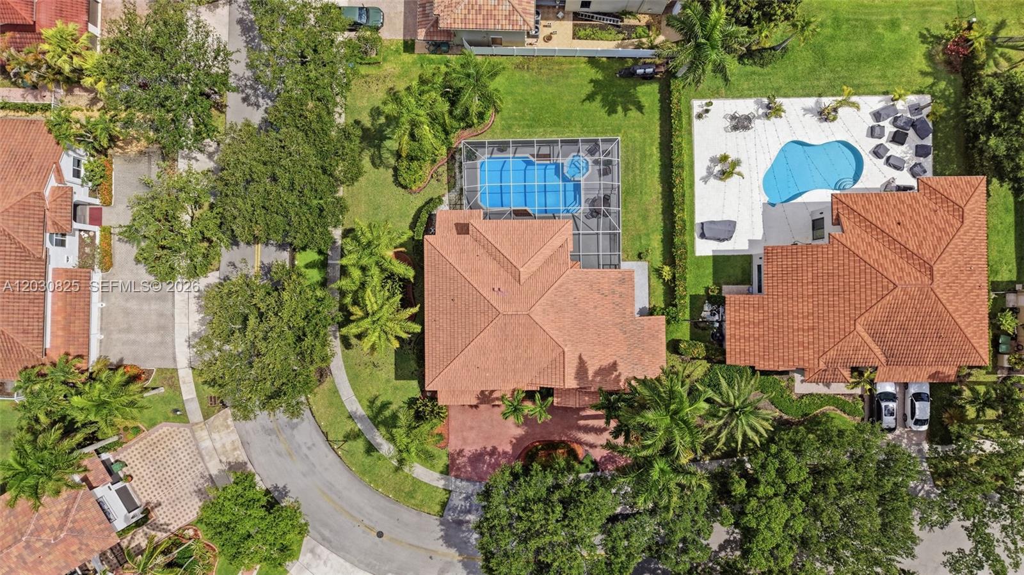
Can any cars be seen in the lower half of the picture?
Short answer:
Yes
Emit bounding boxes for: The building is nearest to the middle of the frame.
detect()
[424,210,666,408]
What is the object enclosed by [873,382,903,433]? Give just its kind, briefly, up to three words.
car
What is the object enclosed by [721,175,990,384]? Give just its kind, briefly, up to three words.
house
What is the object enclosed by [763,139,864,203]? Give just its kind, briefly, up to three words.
swimming pool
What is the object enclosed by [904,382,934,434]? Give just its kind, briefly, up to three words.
car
